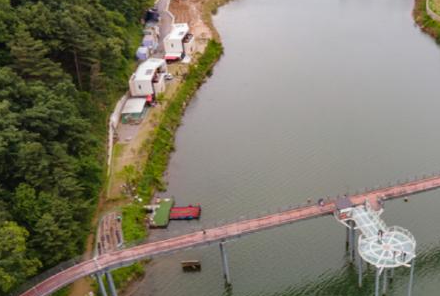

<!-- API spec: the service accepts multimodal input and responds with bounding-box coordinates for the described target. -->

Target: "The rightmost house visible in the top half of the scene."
[162,29,197,64]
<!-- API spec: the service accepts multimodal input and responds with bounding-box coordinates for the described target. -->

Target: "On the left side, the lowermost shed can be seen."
[118,97,148,123]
